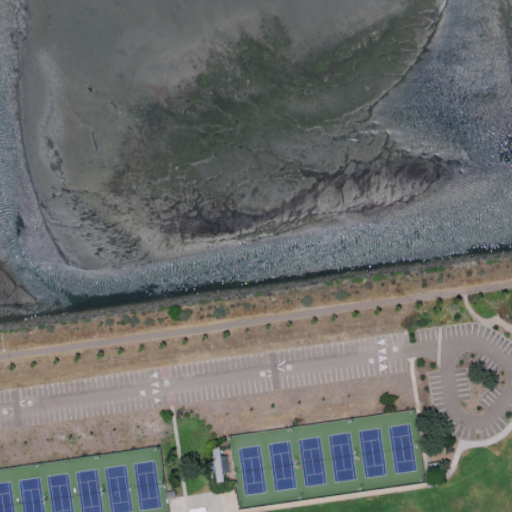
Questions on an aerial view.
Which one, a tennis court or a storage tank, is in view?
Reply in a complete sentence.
Of the two, only a tennis court appears.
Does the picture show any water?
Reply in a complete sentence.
Yes, water can be seen from above here.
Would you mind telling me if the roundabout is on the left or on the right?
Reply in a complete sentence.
You can find the roundabout on the right side of the picture.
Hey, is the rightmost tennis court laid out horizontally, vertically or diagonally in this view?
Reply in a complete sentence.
Seen from above, the rightmost tennis court lies vertically.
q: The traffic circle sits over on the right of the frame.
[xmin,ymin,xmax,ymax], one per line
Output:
[441,335,512,428]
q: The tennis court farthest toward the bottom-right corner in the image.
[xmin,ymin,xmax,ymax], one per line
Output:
[389,424,417,474]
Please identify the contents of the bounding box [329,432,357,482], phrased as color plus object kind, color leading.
blue tennis court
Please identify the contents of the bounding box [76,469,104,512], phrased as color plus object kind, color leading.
blue tennis court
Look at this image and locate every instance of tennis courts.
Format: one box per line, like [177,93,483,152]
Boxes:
[18,478,45,512]
[0,482,16,512]
[76,469,104,512]
[48,474,74,512]
[239,446,267,496]
[105,465,133,512]
[134,461,162,511]
[359,428,387,478]
[389,424,417,474]
[299,437,327,487]
[329,432,357,482]
[269,441,297,491]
